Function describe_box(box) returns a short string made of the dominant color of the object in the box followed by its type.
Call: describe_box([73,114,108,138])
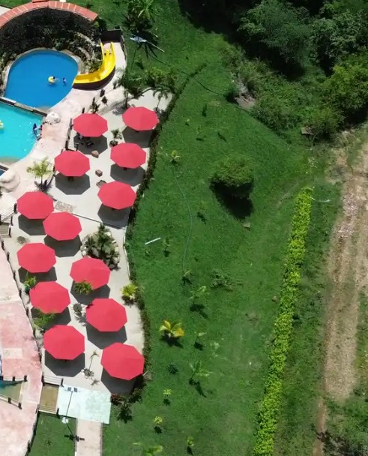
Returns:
red umbrella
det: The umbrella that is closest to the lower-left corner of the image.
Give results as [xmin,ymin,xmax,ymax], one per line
[42,326,84,361]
